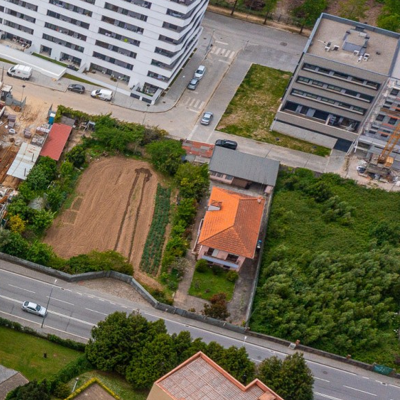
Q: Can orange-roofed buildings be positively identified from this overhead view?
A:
Yes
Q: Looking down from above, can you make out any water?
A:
No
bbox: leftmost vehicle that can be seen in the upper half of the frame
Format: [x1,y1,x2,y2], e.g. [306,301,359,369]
[8,61,34,76]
